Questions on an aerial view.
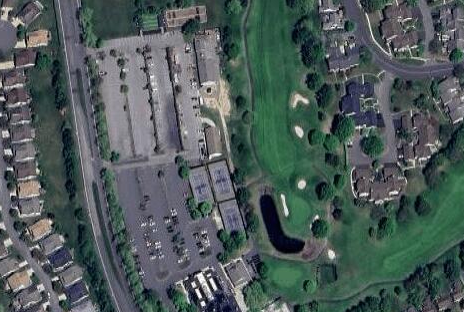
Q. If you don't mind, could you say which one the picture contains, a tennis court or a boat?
tennis court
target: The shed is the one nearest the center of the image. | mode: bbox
[205,122,222,158]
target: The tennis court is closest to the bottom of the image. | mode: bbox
[222,201,244,232]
